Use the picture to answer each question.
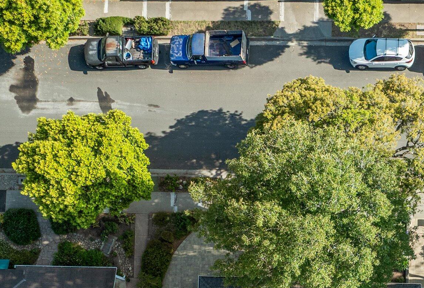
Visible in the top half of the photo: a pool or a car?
car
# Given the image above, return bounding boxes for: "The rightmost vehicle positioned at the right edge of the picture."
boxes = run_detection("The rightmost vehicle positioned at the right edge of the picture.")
[349,33,414,68]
